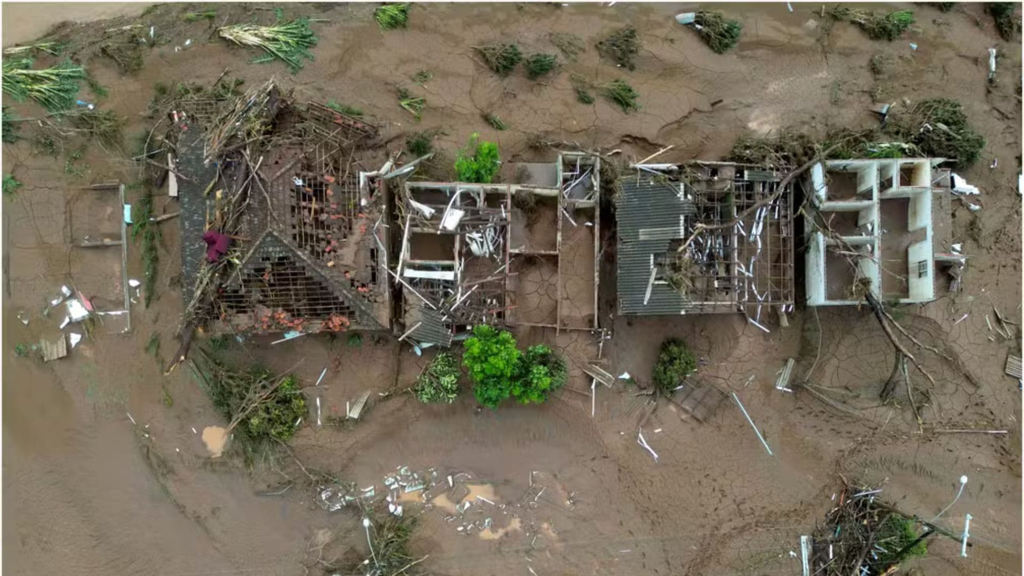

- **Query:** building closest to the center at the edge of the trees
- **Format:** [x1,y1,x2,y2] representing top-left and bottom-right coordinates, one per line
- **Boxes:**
[403,153,600,332]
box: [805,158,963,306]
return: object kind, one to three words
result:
house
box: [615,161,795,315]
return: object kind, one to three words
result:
house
